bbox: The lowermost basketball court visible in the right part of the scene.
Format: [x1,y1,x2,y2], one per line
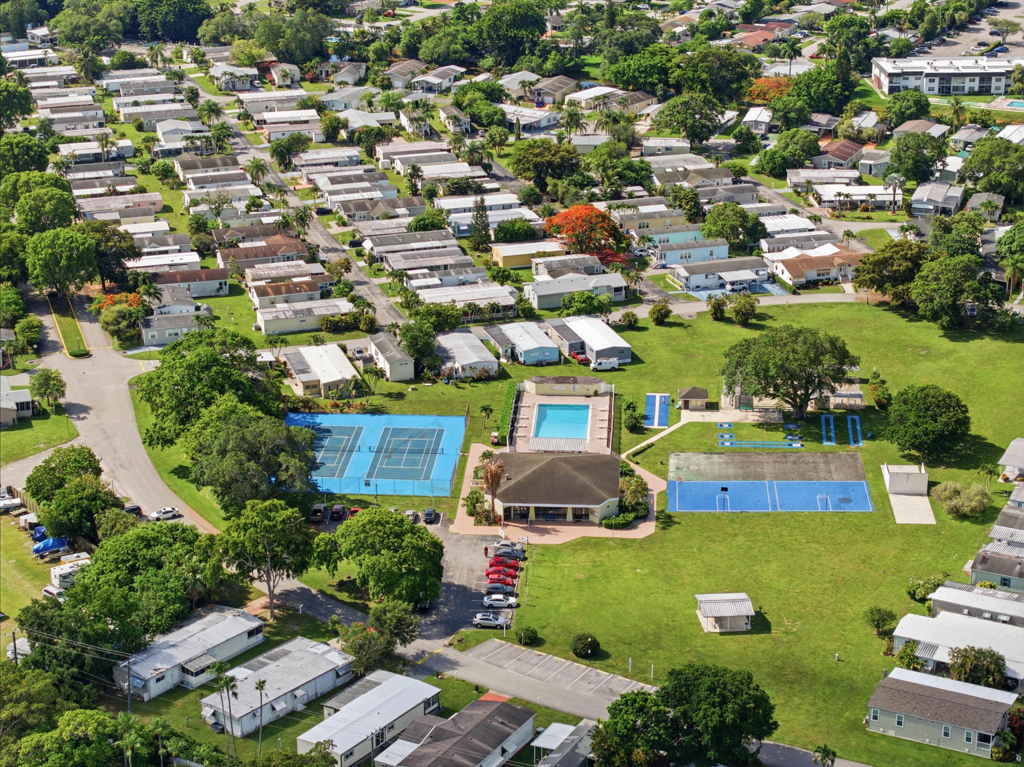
[667,452,875,511]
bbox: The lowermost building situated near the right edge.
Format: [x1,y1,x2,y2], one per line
[868,673,1014,758]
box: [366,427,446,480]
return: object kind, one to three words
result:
tennis court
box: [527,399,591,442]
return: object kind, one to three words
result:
swimming pool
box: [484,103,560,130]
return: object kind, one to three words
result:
house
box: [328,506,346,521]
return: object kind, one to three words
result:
car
